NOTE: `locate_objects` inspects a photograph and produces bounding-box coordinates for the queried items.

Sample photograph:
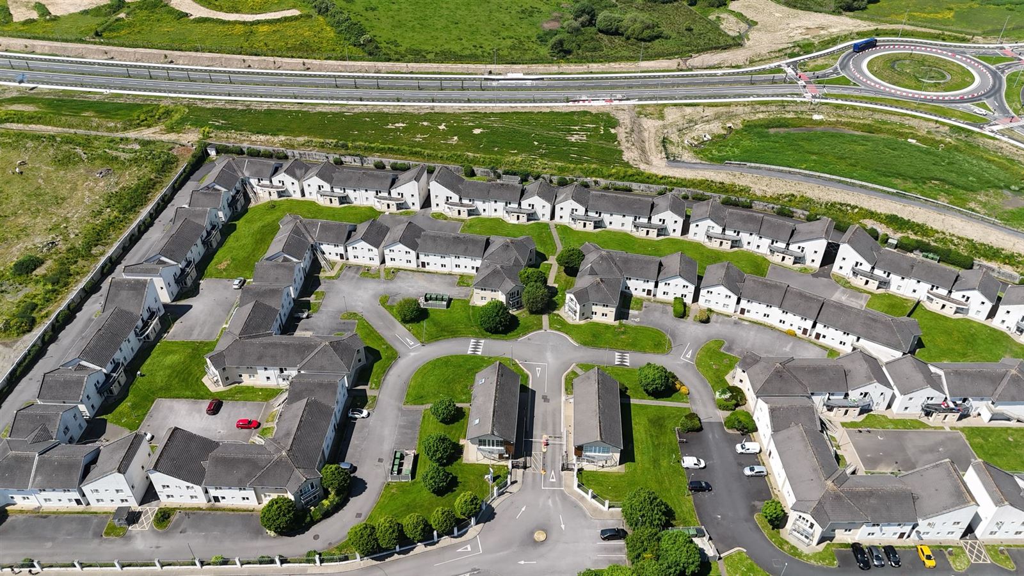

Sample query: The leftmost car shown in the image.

[142,431,154,448]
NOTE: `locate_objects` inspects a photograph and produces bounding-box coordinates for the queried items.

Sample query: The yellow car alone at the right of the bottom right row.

[915,542,938,569]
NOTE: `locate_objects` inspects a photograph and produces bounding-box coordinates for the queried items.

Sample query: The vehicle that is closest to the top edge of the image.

[854,36,879,50]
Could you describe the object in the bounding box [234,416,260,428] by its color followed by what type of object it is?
red vehicle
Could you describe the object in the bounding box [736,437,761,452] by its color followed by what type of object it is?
white vehicle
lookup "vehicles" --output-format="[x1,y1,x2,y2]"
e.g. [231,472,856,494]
[736,437,761,452]
[687,479,713,492]
[744,464,768,476]
[600,526,627,540]
[142,431,154,448]
[681,453,706,468]
[866,543,886,567]
[850,542,872,569]
[915,542,938,569]
[332,458,356,476]
[204,396,221,413]
[882,543,902,567]
[346,405,370,417]
[234,416,260,428]
[854,36,879,50]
